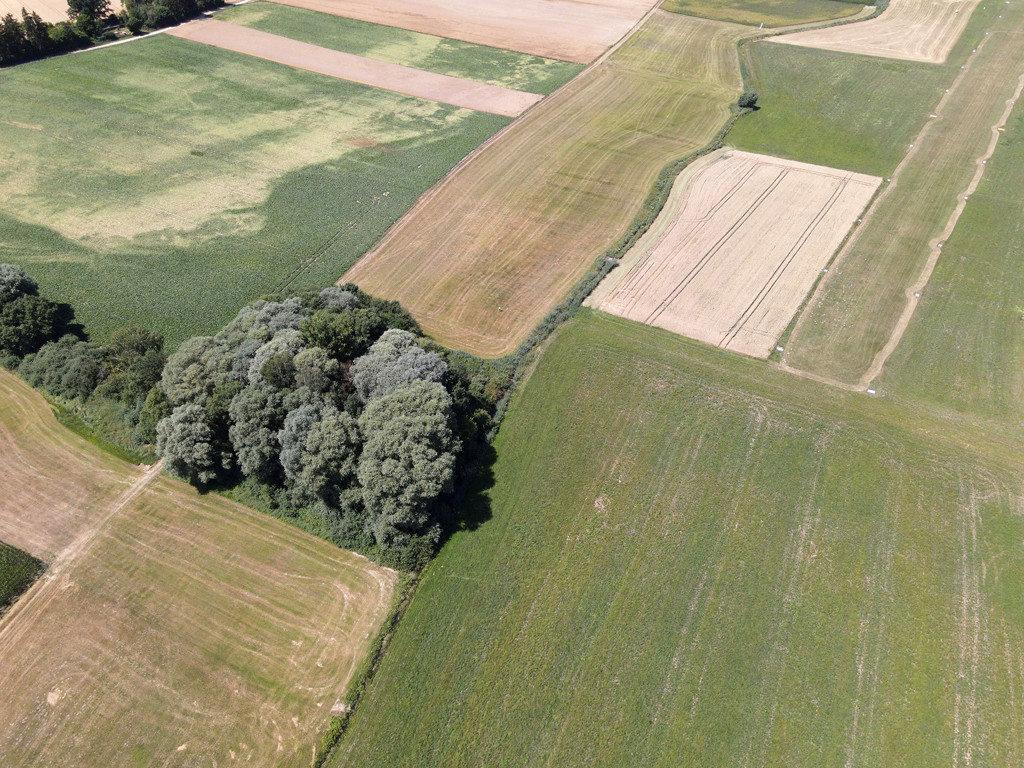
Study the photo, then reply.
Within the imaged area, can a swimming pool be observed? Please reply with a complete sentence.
No, there is no swimming pool in the image.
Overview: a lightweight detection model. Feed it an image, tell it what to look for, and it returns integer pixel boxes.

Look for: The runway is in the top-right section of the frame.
[783,0,1024,384]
